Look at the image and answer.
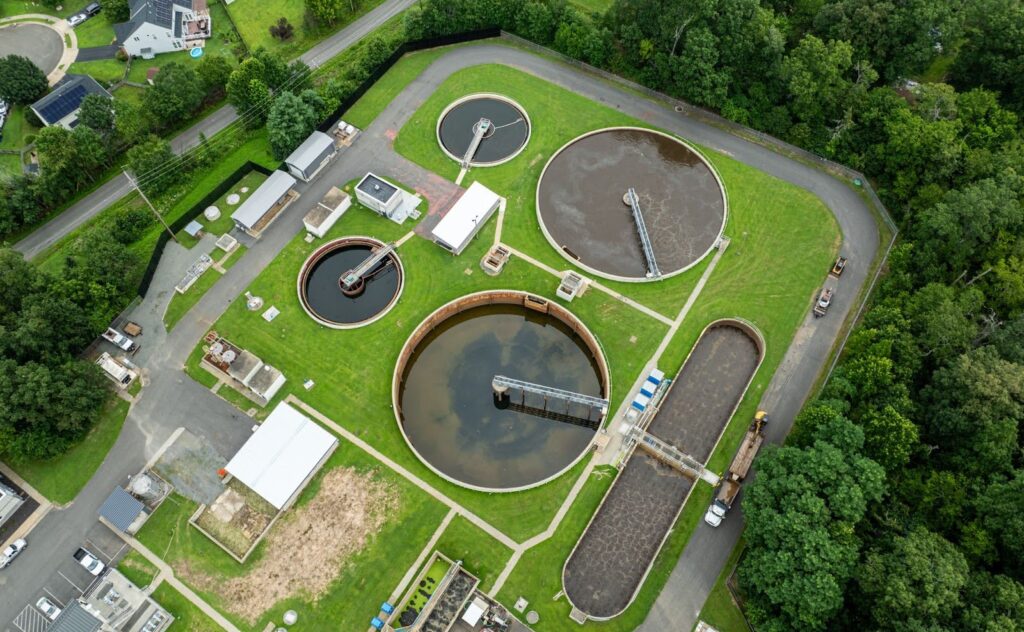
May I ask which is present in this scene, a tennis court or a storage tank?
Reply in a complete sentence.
Looking from above, you can make out a storage tank.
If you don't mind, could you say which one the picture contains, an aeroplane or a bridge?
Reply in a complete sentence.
Visible in the photo is a bridge.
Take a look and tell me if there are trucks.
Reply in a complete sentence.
Yes, a truck is visible in the scene.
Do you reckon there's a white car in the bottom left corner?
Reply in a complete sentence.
Yes, looking in the bottom left corner, one can make out a white car.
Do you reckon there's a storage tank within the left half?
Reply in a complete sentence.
Yes, a storage tank is visible within the left half.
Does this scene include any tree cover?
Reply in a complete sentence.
Yes, there's tree cover in this view.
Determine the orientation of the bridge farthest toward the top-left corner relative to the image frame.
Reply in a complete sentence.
What the image shows is the bridge farthest toward the top-left corner lying at an angle.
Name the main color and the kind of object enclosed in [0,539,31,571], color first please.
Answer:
white truck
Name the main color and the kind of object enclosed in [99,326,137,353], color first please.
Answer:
white truck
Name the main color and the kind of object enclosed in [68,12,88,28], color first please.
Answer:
white car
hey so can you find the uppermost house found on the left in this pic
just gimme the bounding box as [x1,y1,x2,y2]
[107,0,214,58]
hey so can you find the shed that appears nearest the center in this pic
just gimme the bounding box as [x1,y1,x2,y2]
[430,183,503,255]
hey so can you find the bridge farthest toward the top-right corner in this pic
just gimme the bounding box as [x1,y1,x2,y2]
[626,186,659,276]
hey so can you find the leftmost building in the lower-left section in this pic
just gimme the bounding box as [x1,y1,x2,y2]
[0,478,35,527]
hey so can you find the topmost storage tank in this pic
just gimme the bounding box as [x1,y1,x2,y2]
[436,94,531,168]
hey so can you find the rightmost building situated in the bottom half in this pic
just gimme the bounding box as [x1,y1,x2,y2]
[463,597,487,627]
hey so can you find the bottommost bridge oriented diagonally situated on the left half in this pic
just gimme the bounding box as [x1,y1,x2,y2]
[340,242,398,288]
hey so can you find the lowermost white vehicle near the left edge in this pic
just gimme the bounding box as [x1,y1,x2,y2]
[34,595,63,620]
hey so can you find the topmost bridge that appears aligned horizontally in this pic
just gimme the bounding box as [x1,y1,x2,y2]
[492,376,610,415]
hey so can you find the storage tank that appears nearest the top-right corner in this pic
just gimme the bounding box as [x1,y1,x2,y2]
[538,127,730,283]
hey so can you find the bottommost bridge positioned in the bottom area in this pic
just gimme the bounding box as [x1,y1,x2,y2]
[631,429,710,485]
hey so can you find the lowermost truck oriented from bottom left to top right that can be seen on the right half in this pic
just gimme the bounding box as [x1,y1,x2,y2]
[702,474,743,527]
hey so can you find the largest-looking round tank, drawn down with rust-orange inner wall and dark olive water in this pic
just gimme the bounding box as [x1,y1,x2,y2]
[393,289,612,492]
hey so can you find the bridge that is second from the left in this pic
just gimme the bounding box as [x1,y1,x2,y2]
[463,116,494,167]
